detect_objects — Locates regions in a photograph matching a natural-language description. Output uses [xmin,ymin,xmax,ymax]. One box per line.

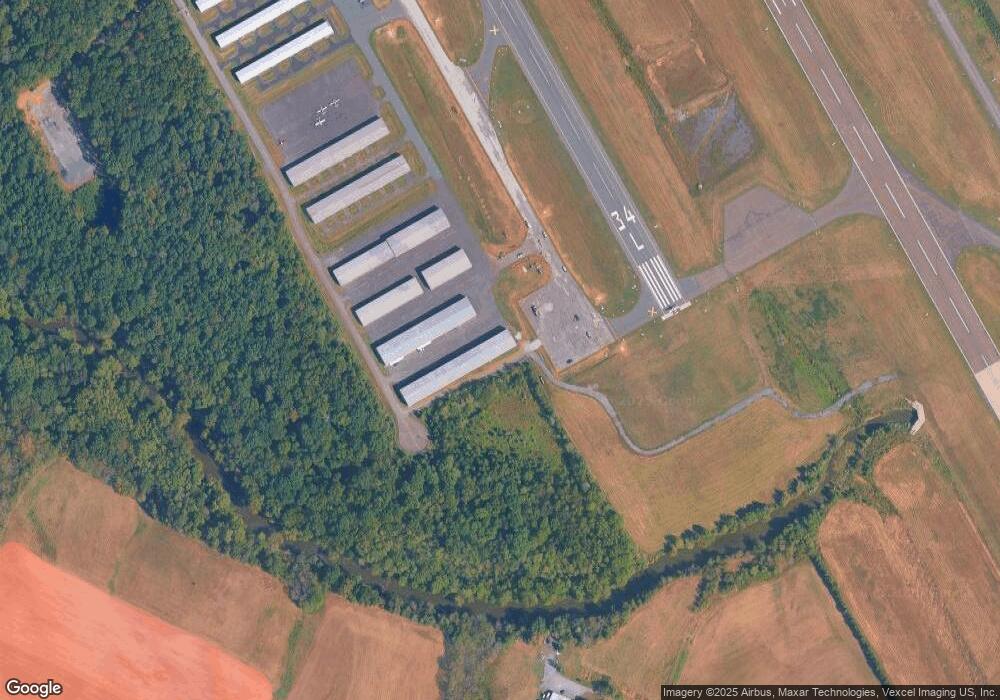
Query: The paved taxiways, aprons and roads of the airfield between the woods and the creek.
[175,0,1000,453]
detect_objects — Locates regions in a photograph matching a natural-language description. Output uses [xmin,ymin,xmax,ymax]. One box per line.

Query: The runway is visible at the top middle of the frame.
[482,0,692,321]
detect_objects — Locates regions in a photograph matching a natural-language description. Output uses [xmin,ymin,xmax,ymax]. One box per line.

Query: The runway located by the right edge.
[762,0,1000,425]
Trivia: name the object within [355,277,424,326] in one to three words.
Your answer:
hangar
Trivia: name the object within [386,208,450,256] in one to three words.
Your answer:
hangar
